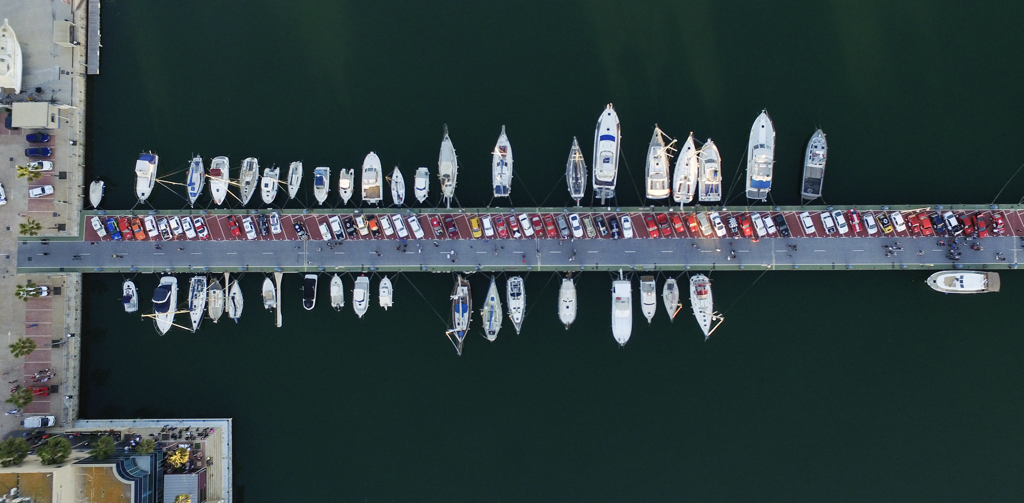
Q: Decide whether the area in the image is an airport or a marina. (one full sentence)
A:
The area seen from above is a marina.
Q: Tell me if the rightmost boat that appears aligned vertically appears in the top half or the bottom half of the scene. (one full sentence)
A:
Seen from above, the rightmost boat that appears aligned vertically lies in the top half of the view.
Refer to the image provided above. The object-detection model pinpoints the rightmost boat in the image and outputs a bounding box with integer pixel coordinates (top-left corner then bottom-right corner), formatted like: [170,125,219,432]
[926,270,1007,294]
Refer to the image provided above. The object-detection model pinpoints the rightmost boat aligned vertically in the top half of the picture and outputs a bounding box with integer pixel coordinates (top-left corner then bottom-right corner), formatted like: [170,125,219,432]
[801,129,829,204]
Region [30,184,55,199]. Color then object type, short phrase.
white car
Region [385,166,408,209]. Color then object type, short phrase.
white boat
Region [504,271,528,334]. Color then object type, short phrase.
white boat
